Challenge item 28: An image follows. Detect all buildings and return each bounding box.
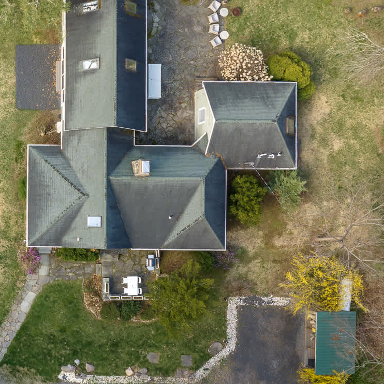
[304,309,357,375]
[23,0,298,257]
